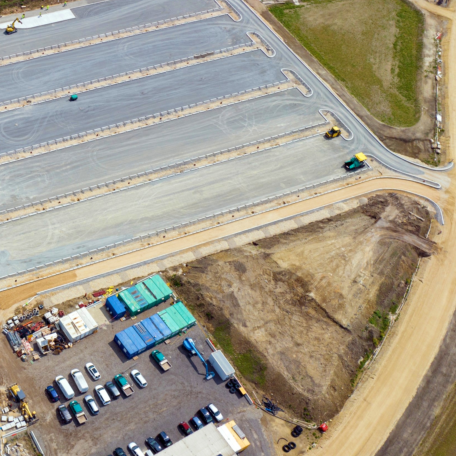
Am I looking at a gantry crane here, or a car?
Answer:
car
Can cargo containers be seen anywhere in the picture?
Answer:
Yes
